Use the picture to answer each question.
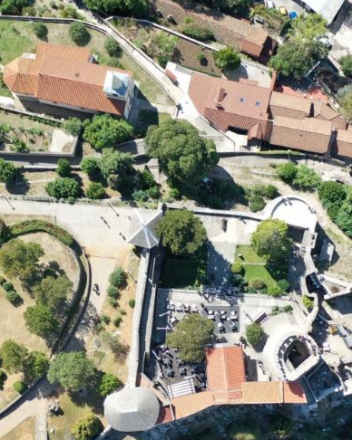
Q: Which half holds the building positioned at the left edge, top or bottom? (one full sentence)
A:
The building positioned at the left edge sits in the top half of the picture.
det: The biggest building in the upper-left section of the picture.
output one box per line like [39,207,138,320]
[3,43,136,125]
